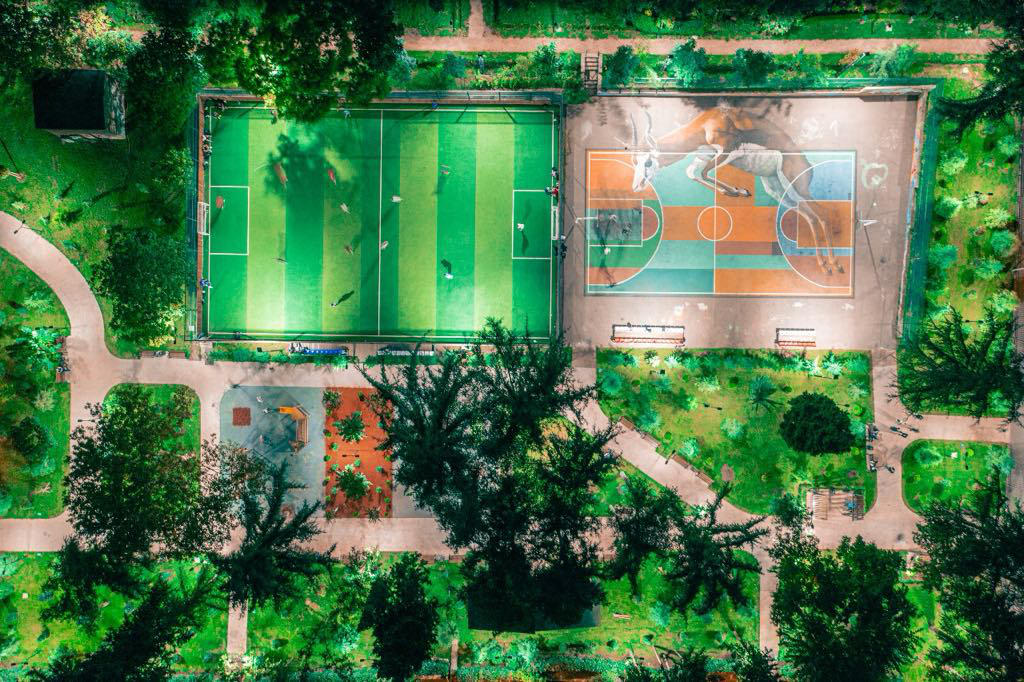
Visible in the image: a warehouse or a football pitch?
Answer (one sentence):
Visible in the photo is a football pitch.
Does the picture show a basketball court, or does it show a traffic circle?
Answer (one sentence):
The image shows a basketball court.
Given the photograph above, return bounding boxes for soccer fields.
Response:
[203,101,560,342]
